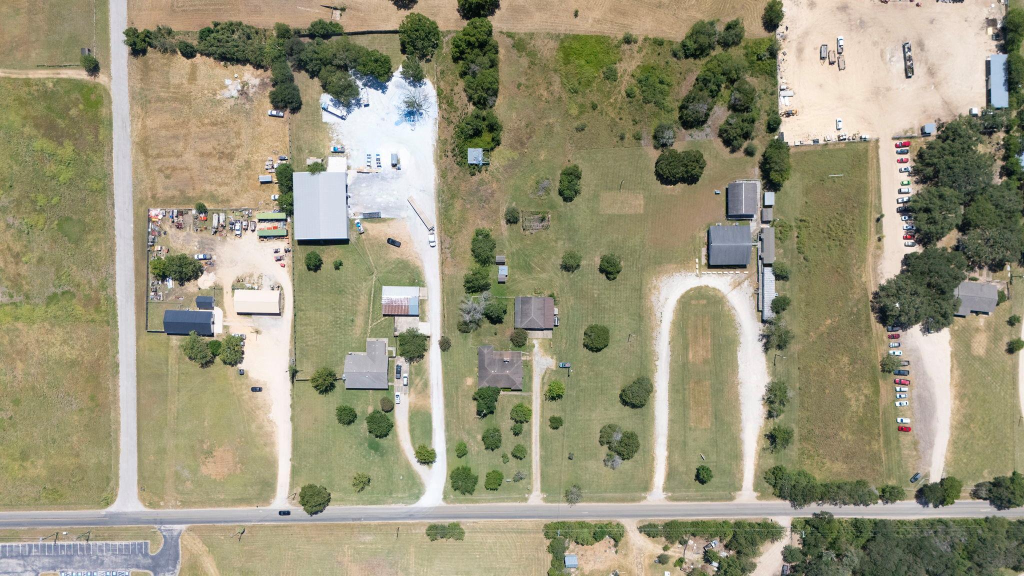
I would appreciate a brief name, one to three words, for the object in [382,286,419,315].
barn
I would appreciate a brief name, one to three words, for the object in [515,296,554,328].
house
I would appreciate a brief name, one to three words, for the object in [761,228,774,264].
building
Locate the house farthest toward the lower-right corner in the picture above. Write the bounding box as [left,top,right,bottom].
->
[953,284,999,314]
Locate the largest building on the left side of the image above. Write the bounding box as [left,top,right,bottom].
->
[293,171,352,240]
